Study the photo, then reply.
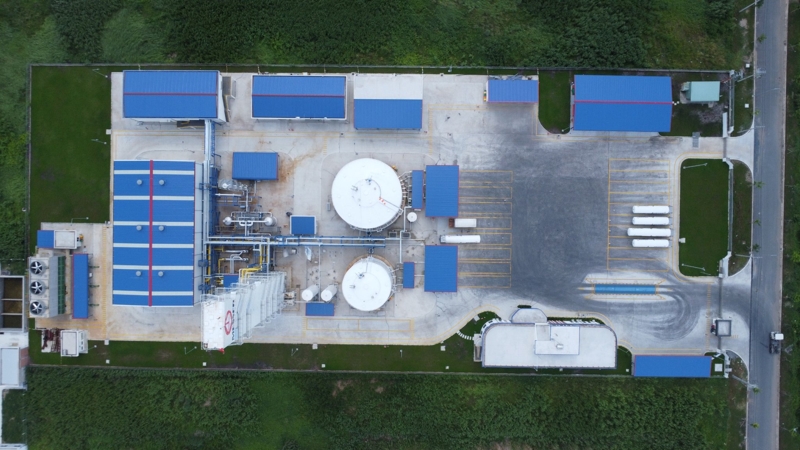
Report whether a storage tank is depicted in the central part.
Yes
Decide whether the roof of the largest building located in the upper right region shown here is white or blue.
blue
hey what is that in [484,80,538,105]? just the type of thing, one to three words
shed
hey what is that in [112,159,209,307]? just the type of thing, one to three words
building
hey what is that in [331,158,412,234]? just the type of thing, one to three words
storage tank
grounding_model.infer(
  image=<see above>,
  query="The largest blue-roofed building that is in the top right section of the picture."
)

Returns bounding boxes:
[569,75,673,134]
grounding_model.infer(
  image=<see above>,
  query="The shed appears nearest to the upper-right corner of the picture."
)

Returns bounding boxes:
[680,81,719,107]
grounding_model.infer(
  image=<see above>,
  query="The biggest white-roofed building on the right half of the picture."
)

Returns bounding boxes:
[473,307,616,371]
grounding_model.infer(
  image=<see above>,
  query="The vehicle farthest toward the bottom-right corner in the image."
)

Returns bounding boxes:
[767,331,784,355]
